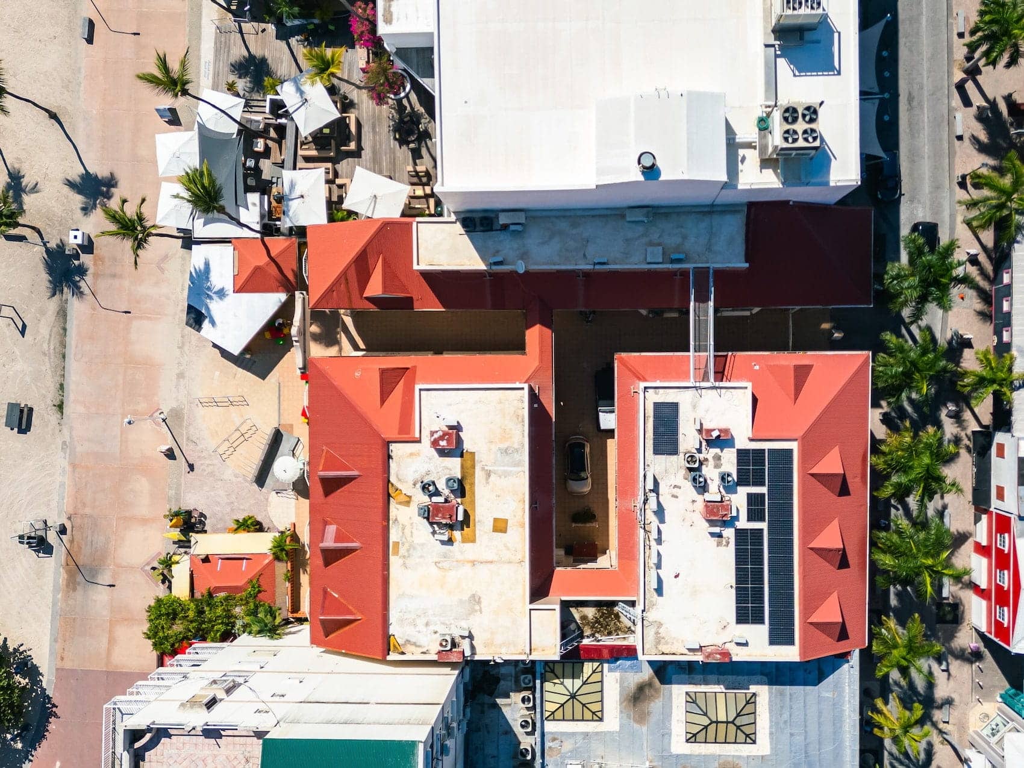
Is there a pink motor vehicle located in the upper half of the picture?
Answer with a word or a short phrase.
No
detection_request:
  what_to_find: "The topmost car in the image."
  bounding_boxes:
[872,149,902,206]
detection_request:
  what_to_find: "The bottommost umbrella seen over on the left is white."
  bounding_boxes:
[275,456,302,482]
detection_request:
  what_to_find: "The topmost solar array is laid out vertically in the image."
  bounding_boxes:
[653,402,679,455]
